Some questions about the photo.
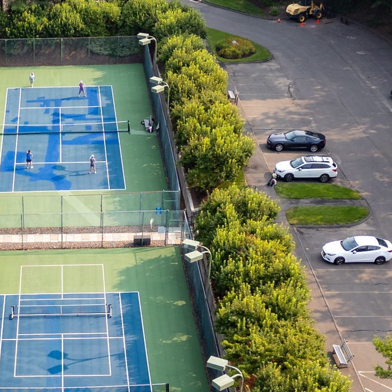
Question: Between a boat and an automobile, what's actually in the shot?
automobile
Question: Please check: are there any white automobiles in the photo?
Yes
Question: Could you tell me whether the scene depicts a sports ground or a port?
sports ground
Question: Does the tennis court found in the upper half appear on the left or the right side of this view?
left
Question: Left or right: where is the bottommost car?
right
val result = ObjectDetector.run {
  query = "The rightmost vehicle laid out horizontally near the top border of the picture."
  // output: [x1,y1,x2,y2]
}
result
[285,0,338,22]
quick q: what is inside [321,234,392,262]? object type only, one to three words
car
